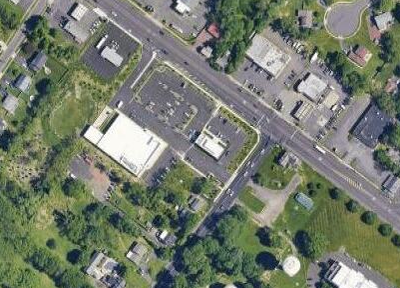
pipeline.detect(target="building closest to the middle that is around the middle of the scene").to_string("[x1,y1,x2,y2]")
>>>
[195,136,224,161]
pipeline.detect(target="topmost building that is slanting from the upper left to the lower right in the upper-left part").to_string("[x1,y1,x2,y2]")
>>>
[63,20,93,46]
